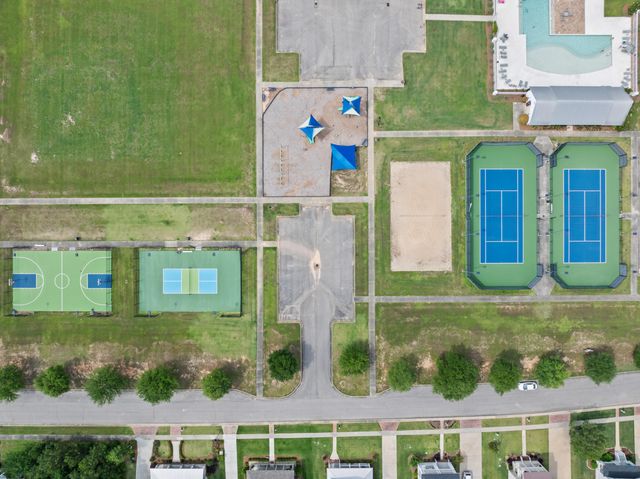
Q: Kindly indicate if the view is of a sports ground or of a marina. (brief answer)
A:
sports ground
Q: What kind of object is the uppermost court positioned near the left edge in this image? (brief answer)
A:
basketball court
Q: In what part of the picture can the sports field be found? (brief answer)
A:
top left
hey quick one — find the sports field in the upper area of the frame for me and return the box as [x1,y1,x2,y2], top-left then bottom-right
[0,0,255,197]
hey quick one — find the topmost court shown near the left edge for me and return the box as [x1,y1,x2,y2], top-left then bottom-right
[12,251,111,311]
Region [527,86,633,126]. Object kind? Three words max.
building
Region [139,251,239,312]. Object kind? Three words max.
sports court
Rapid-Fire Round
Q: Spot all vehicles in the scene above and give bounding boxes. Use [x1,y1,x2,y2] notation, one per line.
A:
[462,470,471,479]
[519,380,539,390]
